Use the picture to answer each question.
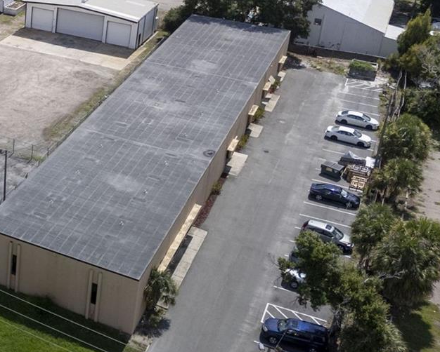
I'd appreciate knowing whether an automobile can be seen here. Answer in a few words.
Yes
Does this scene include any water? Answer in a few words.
No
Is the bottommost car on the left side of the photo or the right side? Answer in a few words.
right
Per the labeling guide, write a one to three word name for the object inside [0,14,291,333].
building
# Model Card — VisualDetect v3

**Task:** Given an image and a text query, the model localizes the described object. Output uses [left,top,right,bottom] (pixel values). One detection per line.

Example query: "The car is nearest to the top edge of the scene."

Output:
[337,110,379,128]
